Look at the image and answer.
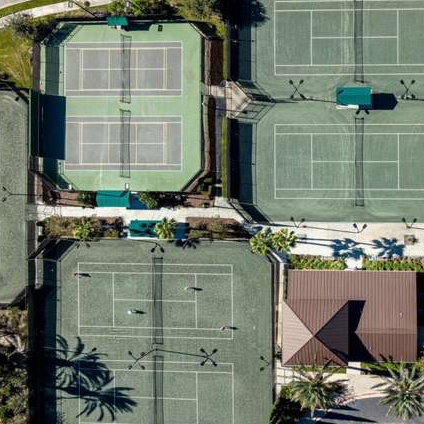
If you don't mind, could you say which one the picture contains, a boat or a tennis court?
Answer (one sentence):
Looking from above, you can make out a tennis court.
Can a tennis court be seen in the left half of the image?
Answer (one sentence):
Yes, I can see a tennis court in the left half of the image.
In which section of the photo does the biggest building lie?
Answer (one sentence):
The biggest building is located in the bottom right region of the scene.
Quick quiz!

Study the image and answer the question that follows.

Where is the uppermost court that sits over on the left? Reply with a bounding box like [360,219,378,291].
[41,22,203,106]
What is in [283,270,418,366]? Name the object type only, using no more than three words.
building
